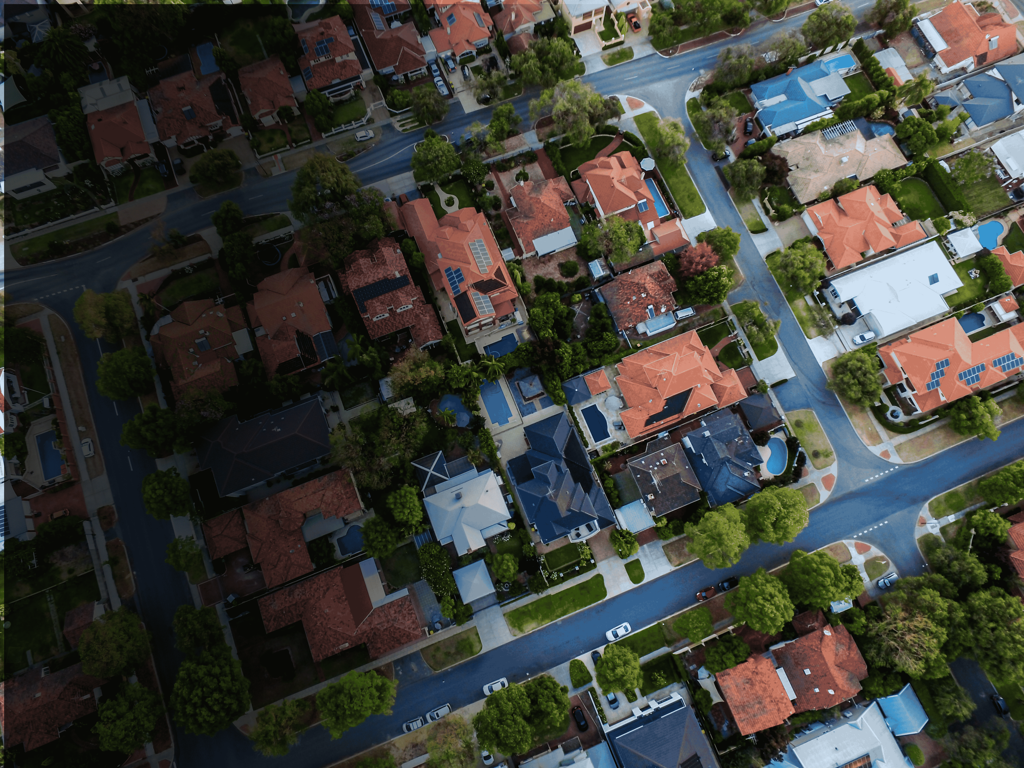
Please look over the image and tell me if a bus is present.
No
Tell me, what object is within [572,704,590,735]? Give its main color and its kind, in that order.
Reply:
black car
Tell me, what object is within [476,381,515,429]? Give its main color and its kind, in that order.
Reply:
blue swimming pool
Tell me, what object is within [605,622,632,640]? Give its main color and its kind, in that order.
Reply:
white car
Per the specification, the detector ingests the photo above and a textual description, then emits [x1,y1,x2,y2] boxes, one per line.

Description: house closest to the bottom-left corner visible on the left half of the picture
[0,647,119,753]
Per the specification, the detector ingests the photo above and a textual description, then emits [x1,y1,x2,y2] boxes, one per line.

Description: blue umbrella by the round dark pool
[454,411,472,428]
